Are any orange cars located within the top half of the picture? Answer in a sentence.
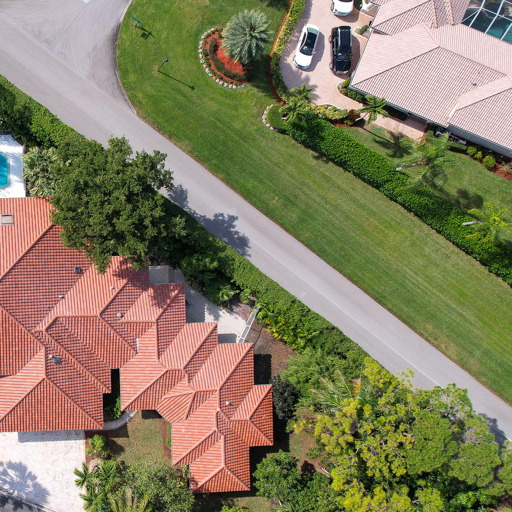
No, no orange car can be made out within the top half of the picture.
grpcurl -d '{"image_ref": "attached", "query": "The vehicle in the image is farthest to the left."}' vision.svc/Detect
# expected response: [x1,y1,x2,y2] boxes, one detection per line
[290,21,321,74]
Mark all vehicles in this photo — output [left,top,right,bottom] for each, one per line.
[328,24,356,76]
[330,0,356,18]
[290,21,321,74]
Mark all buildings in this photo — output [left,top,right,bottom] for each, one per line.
[0,196,275,494]
[343,0,512,161]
